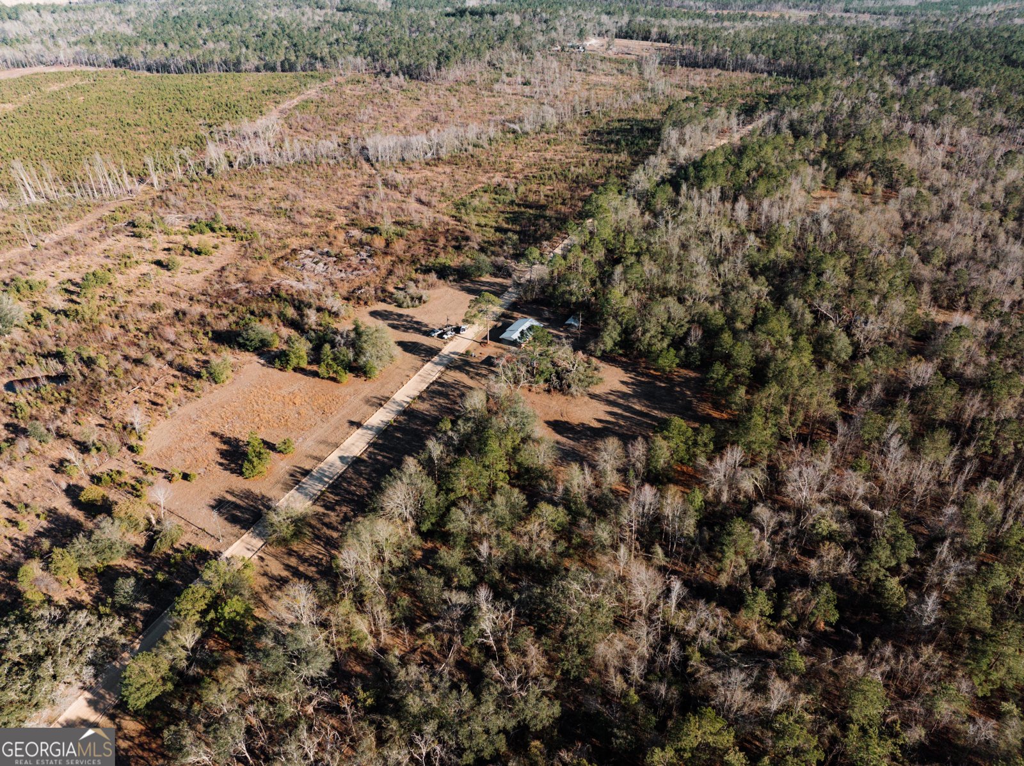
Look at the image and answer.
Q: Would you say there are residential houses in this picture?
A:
Yes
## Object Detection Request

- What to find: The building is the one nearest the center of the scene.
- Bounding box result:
[497,318,543,351]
